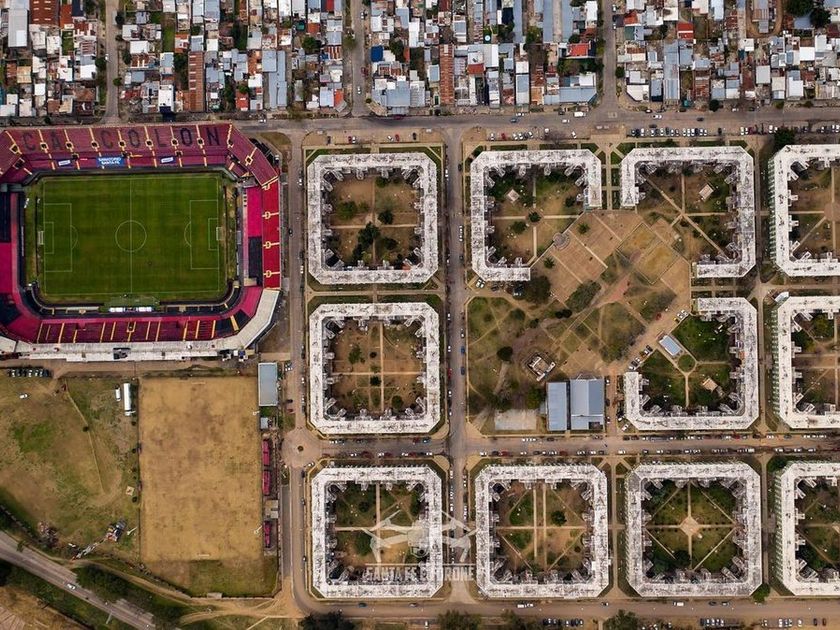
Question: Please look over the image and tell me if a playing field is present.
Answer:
Yes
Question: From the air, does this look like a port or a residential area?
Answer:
residential area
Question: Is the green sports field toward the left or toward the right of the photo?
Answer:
left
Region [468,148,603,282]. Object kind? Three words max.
building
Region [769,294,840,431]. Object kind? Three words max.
building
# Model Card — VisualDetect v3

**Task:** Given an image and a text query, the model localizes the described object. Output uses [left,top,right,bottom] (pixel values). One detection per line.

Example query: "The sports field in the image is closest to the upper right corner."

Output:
[616,222,680,284]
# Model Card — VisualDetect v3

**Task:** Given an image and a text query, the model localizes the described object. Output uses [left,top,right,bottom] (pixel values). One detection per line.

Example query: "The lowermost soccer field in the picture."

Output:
[140,377,262,561]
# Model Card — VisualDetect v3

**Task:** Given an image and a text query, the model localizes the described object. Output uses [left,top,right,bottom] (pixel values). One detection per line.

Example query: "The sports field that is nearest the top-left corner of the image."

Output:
[37,173,227,302]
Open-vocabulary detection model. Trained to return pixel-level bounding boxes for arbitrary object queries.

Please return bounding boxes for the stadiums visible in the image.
[0,123,290,361]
